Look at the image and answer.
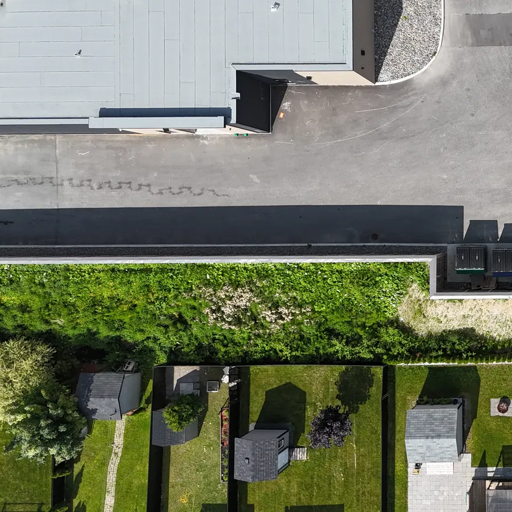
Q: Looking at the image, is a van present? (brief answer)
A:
No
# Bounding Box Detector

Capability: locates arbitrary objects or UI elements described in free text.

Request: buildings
[404,402,462,463]
[153,405,197,447]
[0,0,375,135]
[235,429,290,484]
[73,368,141,421]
